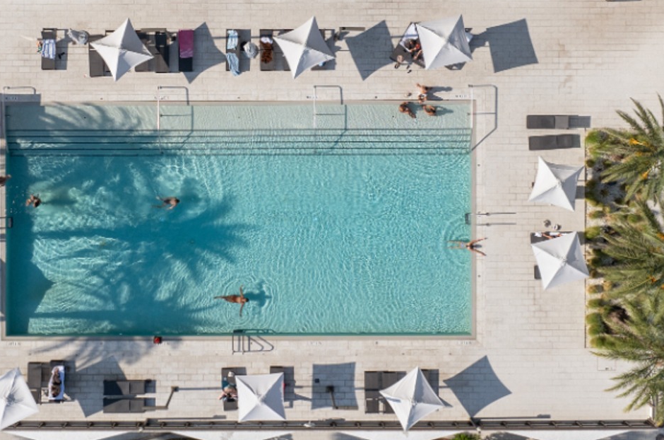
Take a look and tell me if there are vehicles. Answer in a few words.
No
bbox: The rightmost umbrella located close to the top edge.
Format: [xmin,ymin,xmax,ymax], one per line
[416,16,471,68]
